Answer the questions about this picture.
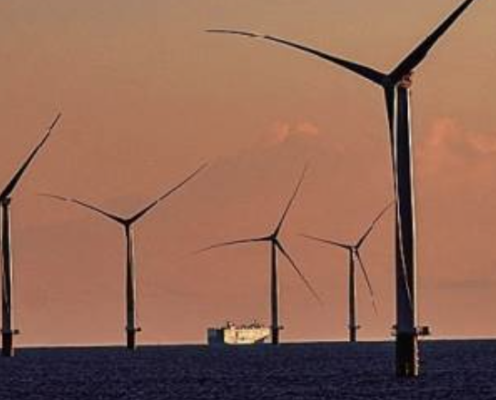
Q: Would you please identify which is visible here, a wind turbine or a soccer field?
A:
wind turbine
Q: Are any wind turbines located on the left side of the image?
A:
Yes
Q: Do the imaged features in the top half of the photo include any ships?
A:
No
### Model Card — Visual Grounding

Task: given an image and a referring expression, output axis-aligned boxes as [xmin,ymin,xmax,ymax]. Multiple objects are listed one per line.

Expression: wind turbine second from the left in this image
[39,164,206,349]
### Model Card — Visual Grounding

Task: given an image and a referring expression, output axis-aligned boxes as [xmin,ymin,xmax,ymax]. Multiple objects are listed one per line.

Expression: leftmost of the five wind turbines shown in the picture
[0,116,59,355]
